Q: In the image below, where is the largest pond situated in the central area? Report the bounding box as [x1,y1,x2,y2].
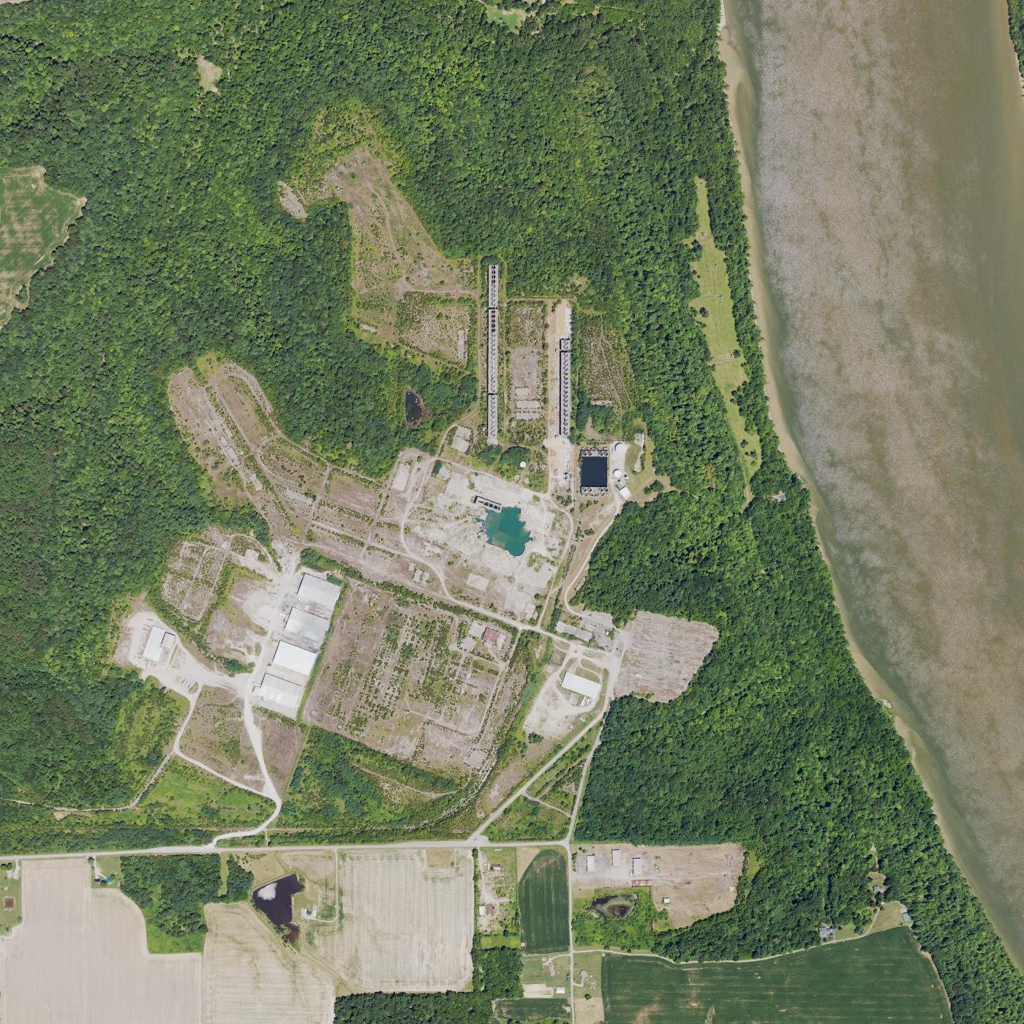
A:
[475,506,532,556]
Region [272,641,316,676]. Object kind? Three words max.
building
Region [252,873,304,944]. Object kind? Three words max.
pond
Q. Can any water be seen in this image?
Yes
